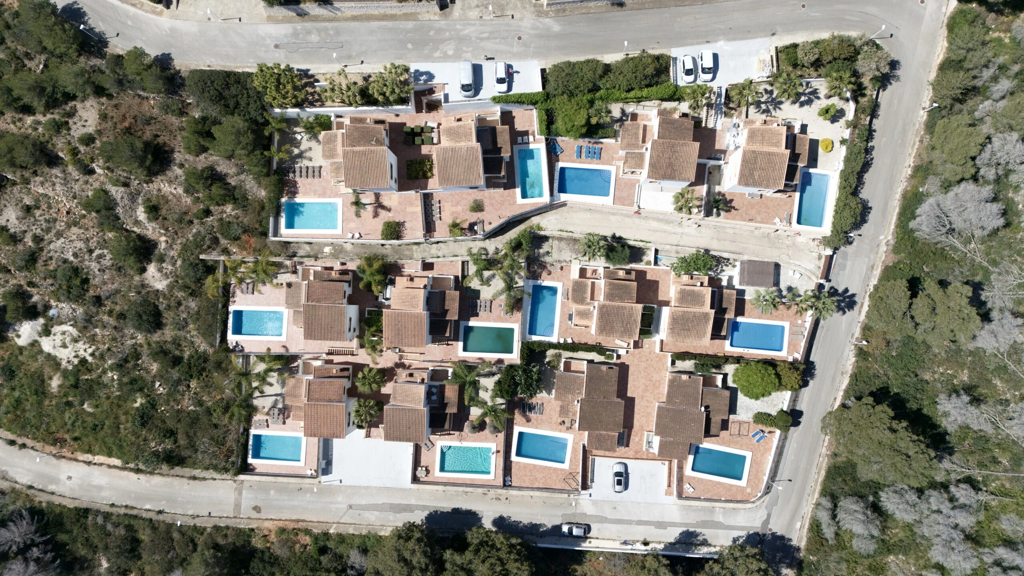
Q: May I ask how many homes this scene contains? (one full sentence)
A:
The picture shows 12 homes.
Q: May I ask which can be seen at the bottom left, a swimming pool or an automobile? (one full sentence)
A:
It is a swimming pool that can be seen at the bottom left.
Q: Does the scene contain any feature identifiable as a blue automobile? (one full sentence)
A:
No, the photo shows no blue automobile.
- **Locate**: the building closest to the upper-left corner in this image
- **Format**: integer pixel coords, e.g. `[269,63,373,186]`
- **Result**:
[321,114,396,194]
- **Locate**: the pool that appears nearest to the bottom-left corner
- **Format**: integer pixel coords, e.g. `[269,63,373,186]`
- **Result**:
[248,430,306,466]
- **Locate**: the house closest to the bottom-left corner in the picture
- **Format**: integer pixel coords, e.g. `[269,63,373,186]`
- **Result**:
[284,358,357,439]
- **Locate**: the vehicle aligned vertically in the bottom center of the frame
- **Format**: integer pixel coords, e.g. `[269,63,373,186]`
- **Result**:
[612,462,626,493]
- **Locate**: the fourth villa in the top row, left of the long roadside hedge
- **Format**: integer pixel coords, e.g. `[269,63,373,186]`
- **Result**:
[723,117,809,195]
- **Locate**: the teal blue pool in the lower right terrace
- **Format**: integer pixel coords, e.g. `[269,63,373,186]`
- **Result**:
[686,443,753,487]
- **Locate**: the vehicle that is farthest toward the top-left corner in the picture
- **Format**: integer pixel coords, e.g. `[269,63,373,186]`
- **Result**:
[459,60,475,100]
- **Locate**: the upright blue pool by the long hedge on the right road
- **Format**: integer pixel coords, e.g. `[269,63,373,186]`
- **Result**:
[792,168,837,231]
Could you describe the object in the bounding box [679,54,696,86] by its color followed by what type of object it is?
white car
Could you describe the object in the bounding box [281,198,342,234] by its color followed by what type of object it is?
blue swimming pool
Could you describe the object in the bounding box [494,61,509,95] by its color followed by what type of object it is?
white car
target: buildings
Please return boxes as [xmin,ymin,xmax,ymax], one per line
[384,365,458,444]
[657,273,736,346]
[618,107,700,188]
[321,114,396,194]
[382,276,459,348]
[554,356,625,452]
[736,260,775,288]
[284,358,357,439]
[650,372,730,460]
[435,112,511,193]
[723,117,809,195]
[285,267,358,341]
[570,266,644,340]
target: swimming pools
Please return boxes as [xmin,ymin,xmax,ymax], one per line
[513,144,548,204]
[522,280,563,342]
[792,168,837,231]
[248,430,306,466]
[511,426,574,469]
[553,162,616,204]
[227,306,288,341]
[435,441,496,480]
[281,198,342,234]
[458,321,519,358]
[686,443,753,487]
[725,318,790,356]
